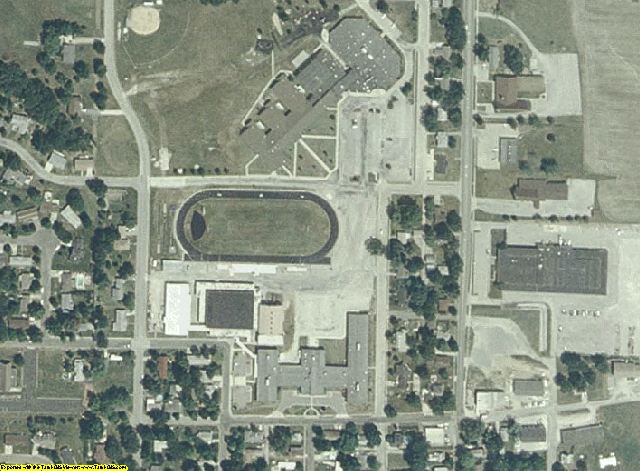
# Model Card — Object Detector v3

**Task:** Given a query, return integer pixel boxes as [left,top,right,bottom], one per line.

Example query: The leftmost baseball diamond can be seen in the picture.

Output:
[123,0,189,67]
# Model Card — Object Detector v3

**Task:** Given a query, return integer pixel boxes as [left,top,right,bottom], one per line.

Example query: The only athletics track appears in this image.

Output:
[176,190,339,264]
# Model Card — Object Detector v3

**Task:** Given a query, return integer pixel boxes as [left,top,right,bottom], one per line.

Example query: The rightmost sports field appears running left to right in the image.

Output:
[186,200,329,254]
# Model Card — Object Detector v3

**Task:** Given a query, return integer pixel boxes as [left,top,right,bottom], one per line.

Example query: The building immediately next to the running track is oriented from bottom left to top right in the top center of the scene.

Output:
[236,18,401,168]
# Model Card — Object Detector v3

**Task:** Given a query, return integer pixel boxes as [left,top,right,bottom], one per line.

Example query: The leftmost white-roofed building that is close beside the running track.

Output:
[165,283,190,335]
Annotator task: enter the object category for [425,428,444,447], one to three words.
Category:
building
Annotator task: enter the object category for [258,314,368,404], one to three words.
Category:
building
